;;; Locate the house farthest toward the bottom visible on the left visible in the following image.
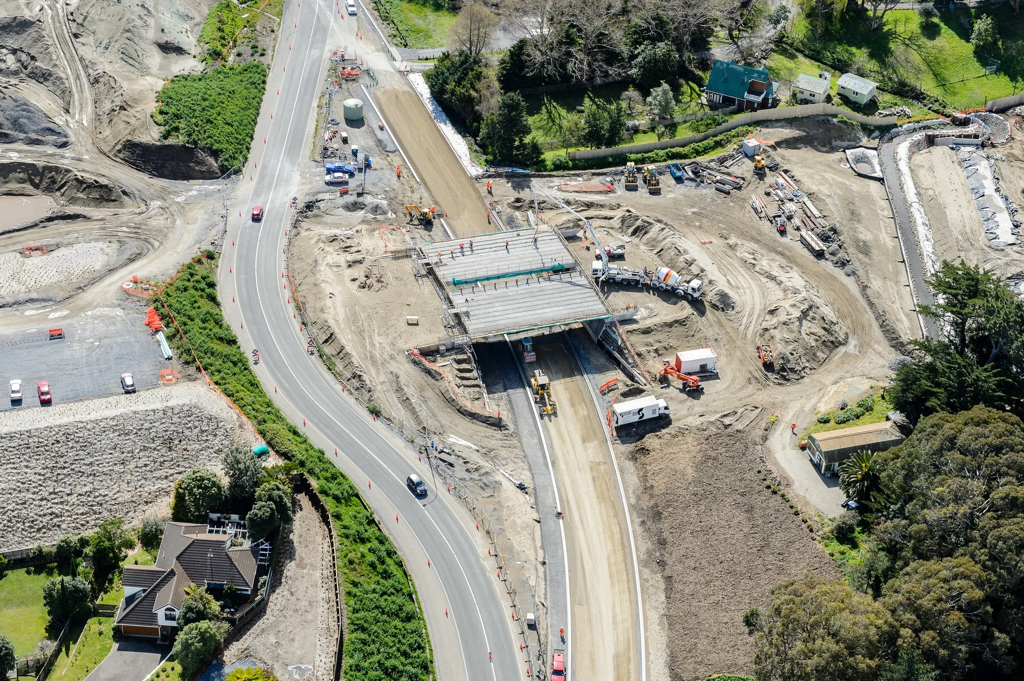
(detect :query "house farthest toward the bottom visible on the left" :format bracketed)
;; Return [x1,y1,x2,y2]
[115,522,261,640]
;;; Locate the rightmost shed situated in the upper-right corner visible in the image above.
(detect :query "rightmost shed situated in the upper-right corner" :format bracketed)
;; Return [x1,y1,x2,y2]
[836,70,892,108]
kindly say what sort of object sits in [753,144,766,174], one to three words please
vehicle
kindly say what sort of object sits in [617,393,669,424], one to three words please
truck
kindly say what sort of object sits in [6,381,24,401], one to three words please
car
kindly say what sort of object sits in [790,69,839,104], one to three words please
shed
